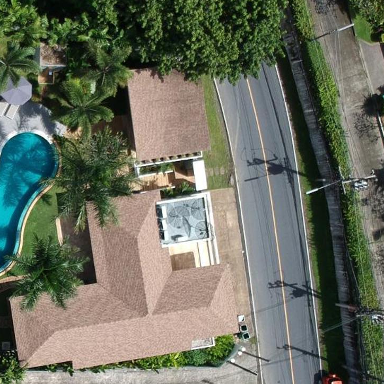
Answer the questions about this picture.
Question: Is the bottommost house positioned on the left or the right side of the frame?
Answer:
left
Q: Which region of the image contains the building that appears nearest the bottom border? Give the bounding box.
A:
[8,189,239,370]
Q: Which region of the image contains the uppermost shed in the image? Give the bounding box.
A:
[37,46,66,85]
